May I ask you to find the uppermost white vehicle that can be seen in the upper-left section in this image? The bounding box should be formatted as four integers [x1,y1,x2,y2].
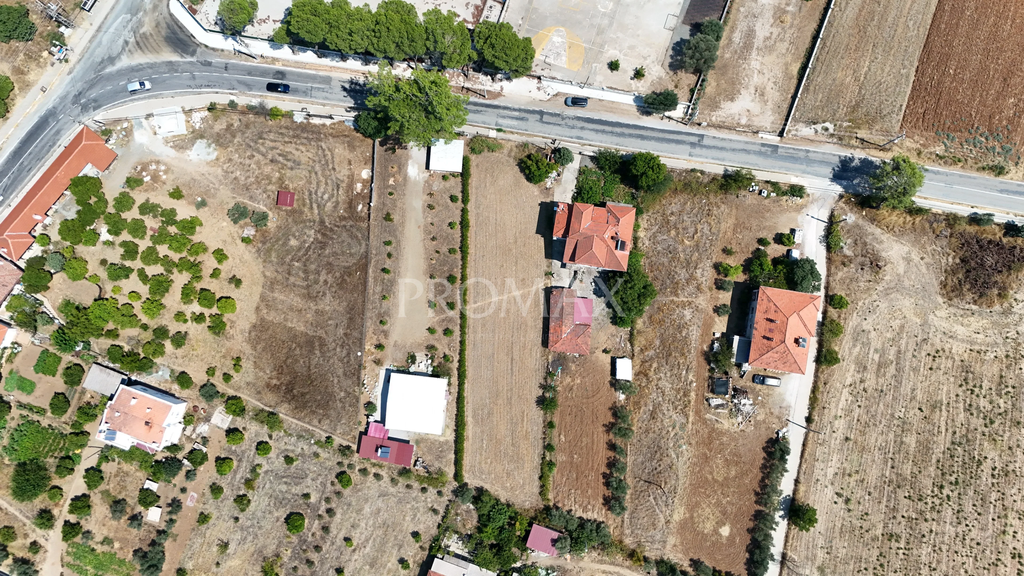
[122,78,151,93]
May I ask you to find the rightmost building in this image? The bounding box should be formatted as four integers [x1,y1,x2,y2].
[745,286,822,375]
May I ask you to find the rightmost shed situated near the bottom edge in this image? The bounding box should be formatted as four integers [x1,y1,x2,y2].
[526,521,562,556]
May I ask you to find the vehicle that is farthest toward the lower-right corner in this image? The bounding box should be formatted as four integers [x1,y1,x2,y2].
[753,374,782,387]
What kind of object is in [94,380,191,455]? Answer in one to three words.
house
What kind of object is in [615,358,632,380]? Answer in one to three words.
shed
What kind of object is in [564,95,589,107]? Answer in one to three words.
vehicle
